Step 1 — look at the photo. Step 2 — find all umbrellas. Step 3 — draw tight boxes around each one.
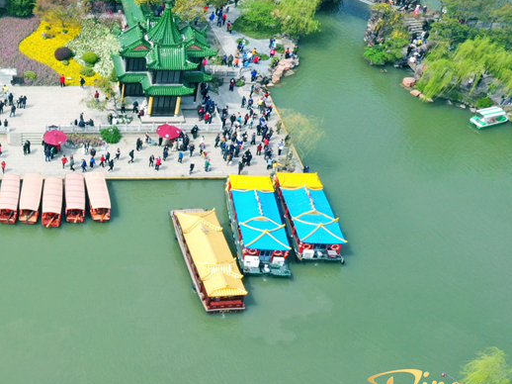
[154,124,183,151]
[39,129,68,154]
